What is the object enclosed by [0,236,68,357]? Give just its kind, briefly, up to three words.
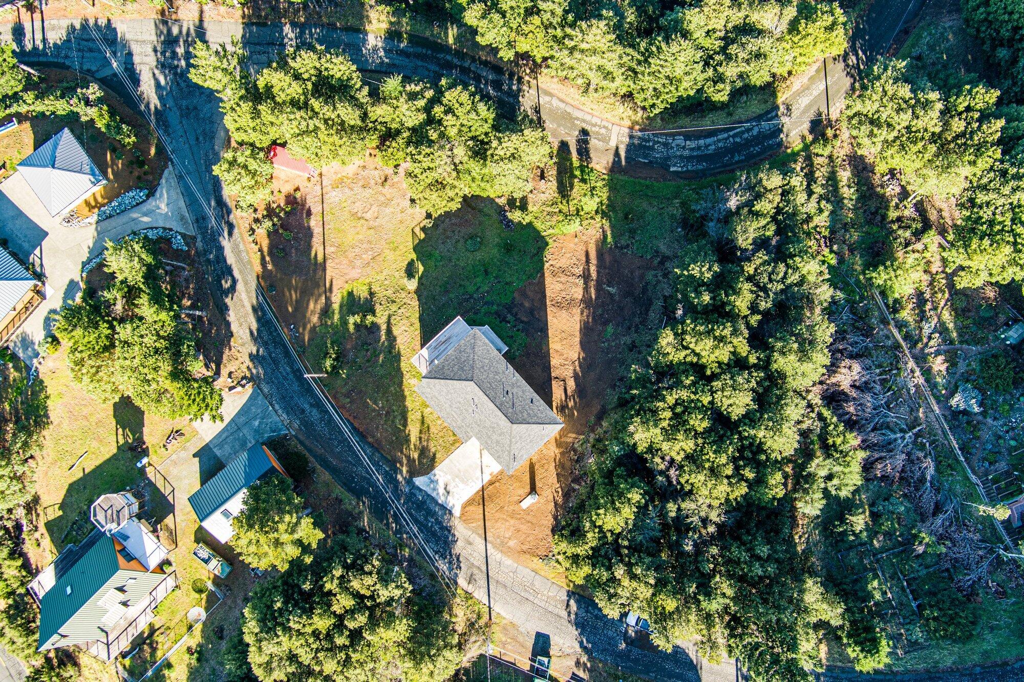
house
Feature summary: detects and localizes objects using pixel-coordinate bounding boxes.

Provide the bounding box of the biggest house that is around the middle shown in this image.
[404,311,565,474]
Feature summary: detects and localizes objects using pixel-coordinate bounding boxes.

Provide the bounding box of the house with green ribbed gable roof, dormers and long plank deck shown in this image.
[27,512,198,666]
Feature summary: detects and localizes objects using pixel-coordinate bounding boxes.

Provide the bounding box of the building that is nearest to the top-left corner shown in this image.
[15,128,114,218]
